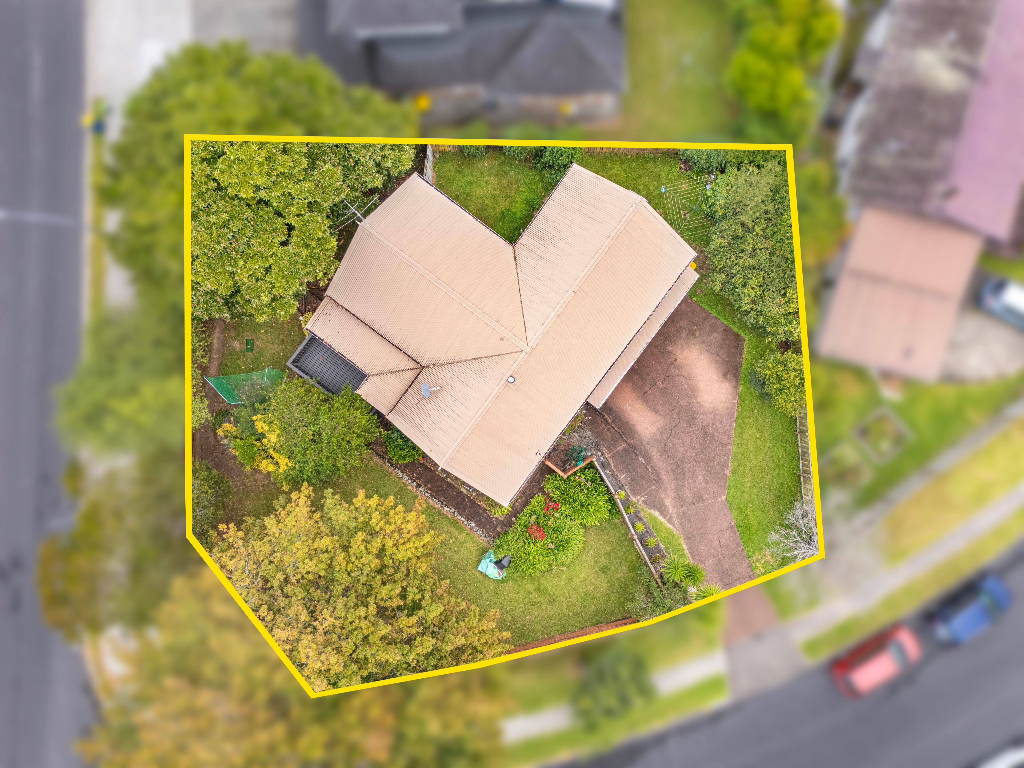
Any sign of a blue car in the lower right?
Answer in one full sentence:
Yes, in the lower right there is a blue car.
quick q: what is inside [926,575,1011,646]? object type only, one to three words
car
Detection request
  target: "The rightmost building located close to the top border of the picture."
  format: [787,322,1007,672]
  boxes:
[843,0,1024,243]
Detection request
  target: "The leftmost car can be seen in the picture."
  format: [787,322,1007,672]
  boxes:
[831,626,917,692]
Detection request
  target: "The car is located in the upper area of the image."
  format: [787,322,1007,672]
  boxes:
[978,280,1024,329]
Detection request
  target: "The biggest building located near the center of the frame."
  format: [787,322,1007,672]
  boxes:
[285,161,705,509]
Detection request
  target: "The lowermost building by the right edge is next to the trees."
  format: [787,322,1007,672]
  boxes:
[801,206,985,383]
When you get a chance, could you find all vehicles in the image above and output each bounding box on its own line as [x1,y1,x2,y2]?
[926,575,1011,646]
[978,280,1024,329]
[979,734,1024,768]
[831,626,917,692]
